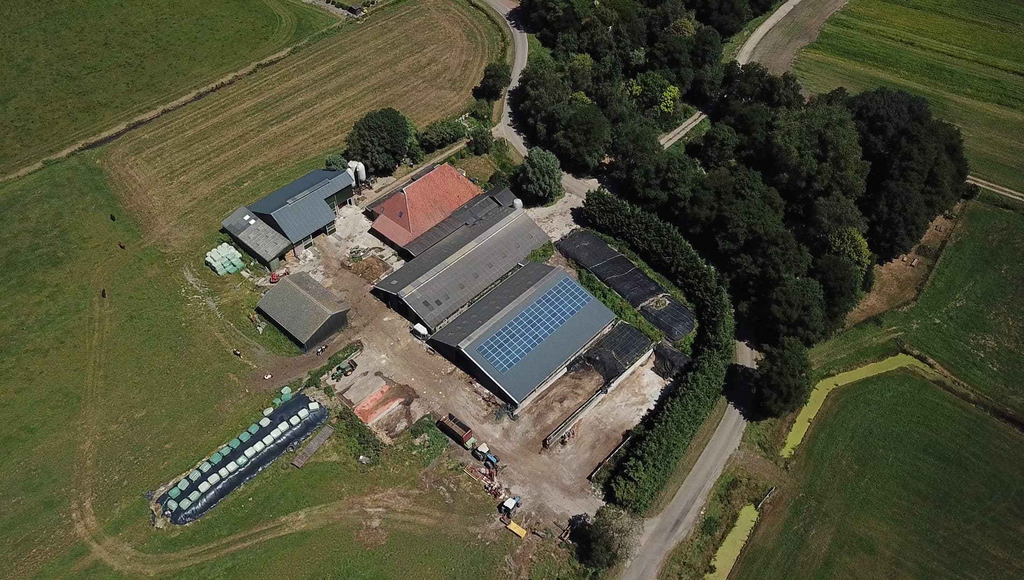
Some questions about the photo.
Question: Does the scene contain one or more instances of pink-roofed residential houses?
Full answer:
Yes, a pink-roofed residential house is visible in the scene.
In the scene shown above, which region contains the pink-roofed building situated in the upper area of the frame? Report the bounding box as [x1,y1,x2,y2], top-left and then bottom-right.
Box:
[365,161,483,254]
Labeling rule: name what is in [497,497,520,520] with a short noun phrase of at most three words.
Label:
work vehicle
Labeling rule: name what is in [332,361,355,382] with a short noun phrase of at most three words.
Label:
work vehicle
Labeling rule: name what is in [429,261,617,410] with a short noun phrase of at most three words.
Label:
barn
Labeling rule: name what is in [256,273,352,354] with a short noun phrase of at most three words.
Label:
shed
